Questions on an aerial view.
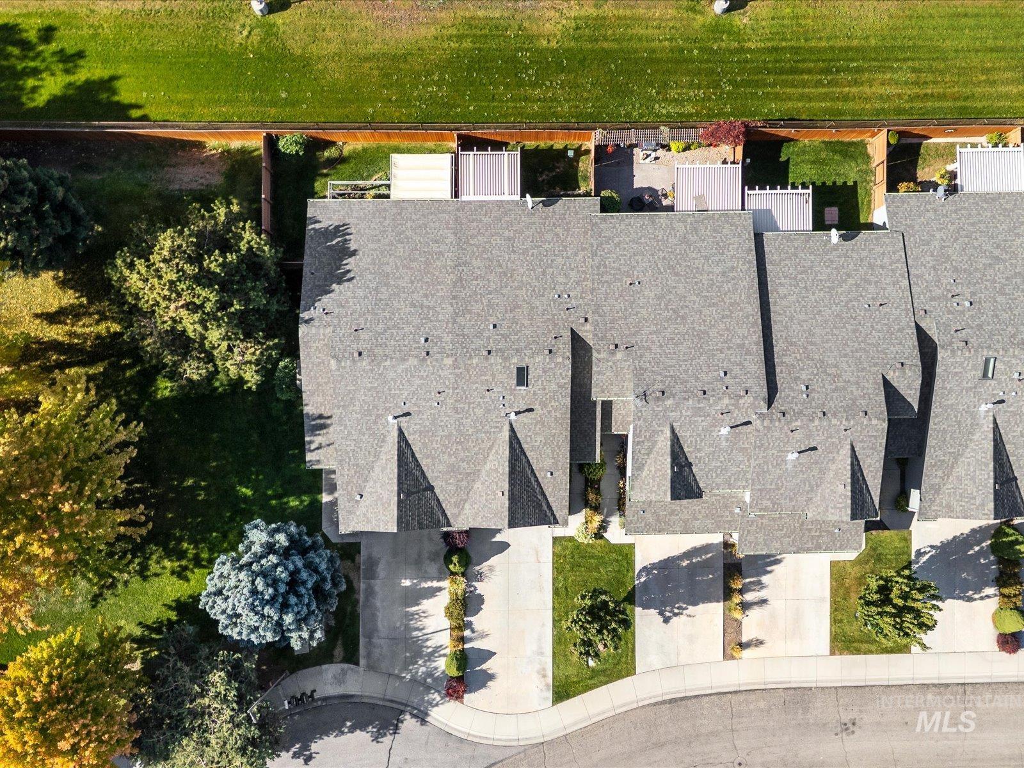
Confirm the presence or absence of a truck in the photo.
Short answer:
No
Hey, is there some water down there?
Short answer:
No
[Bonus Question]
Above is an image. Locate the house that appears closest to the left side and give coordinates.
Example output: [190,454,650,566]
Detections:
[298,197,602,538]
